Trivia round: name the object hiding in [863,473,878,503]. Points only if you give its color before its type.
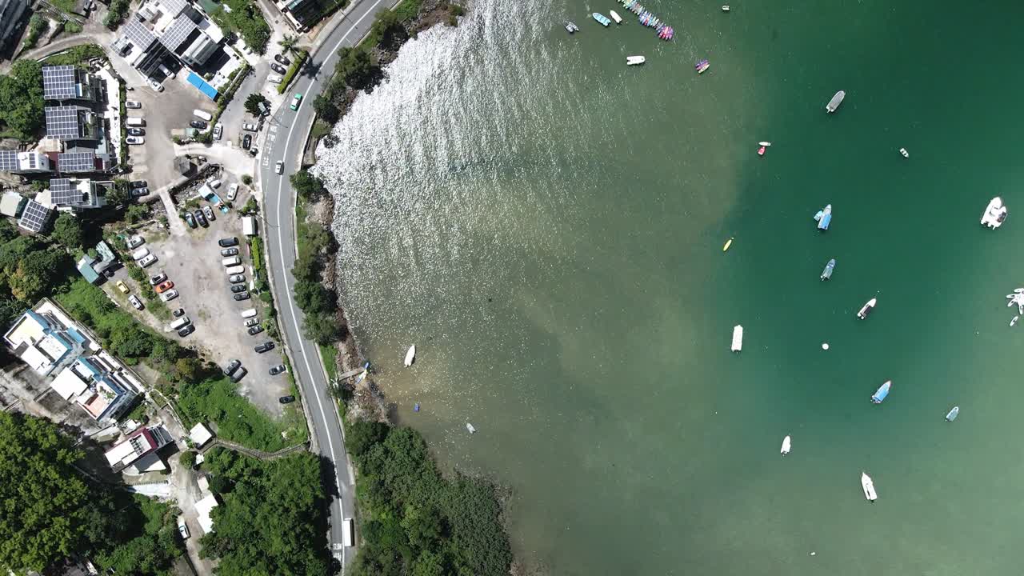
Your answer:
white boat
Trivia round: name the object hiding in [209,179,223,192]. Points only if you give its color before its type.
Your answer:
white vehicle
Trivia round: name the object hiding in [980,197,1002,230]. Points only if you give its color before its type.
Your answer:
white boat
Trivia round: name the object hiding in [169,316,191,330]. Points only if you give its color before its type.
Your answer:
white vehicle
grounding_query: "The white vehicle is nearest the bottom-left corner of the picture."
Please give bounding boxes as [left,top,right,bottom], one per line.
[177,516,190,538]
